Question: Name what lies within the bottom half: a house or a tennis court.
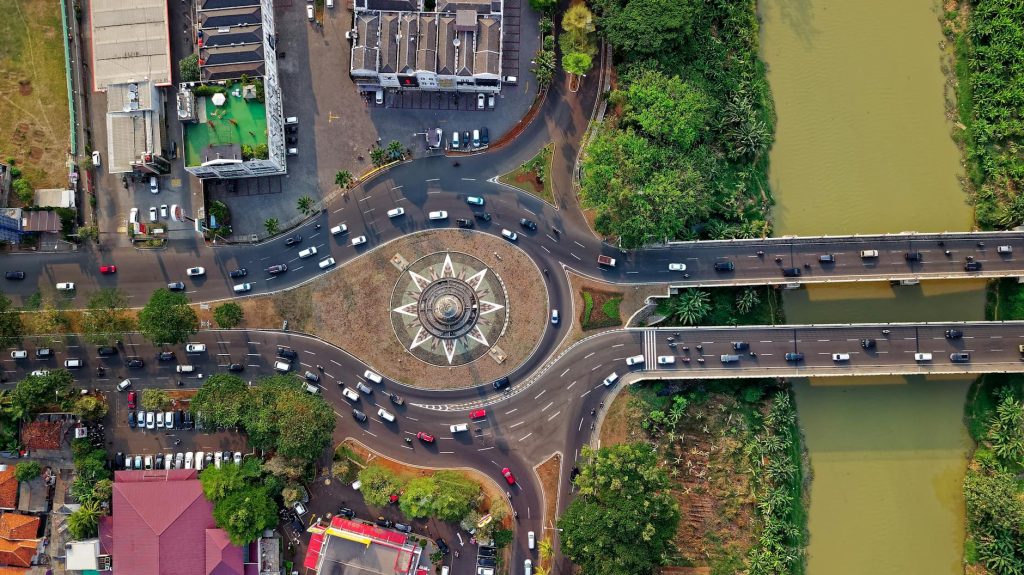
house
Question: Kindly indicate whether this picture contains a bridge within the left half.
No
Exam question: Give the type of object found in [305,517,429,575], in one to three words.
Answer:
building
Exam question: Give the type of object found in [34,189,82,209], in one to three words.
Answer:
shed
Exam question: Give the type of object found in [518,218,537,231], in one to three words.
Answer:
vehicle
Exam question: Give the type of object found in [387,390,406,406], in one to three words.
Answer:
vehicle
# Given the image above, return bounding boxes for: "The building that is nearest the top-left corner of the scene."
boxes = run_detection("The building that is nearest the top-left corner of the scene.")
[92,0,171,92]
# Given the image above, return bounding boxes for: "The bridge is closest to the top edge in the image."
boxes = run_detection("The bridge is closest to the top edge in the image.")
[664,231,1024,290]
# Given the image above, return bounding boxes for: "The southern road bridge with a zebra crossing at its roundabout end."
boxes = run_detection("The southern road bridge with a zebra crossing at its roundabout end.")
[626,320,1024,380]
